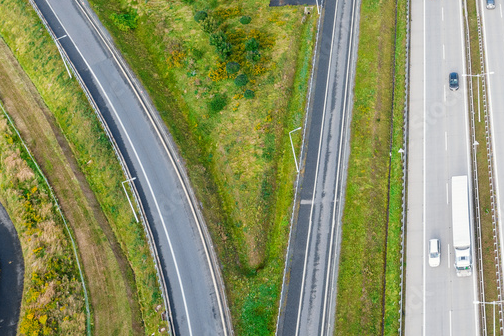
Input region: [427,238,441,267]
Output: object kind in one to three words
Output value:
car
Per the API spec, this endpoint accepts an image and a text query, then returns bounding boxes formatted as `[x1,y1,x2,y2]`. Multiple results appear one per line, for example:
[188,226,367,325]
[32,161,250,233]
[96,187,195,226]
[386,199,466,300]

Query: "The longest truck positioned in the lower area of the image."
[451,176,474,277]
